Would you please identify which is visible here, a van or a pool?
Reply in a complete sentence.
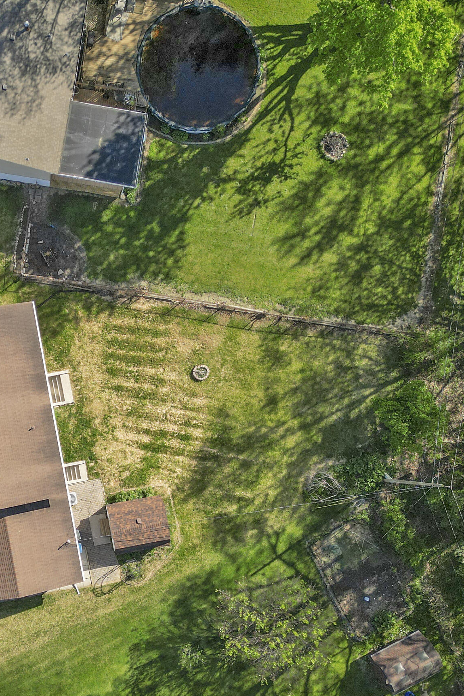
The image shows a pool.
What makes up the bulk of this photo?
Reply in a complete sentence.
For the most part, this view shows grass.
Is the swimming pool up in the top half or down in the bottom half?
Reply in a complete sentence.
It is in the top half that the swimming pool appears.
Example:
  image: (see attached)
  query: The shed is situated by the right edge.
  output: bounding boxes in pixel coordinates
[362,625,442,695]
